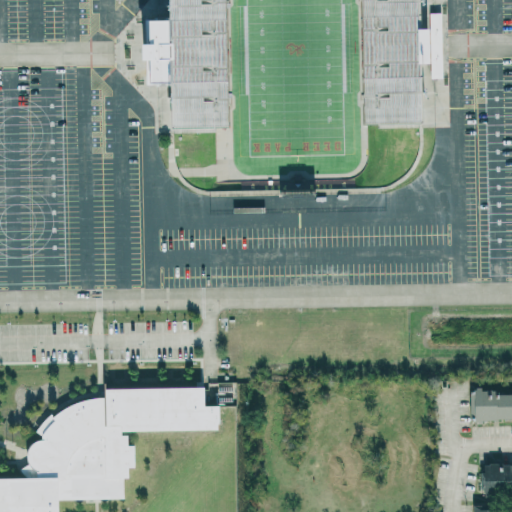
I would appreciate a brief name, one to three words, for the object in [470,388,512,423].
building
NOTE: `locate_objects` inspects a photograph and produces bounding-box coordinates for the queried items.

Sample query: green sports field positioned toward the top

[230,0,362,175]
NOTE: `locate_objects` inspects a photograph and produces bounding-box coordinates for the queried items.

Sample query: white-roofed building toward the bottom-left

[0,384,221,512]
